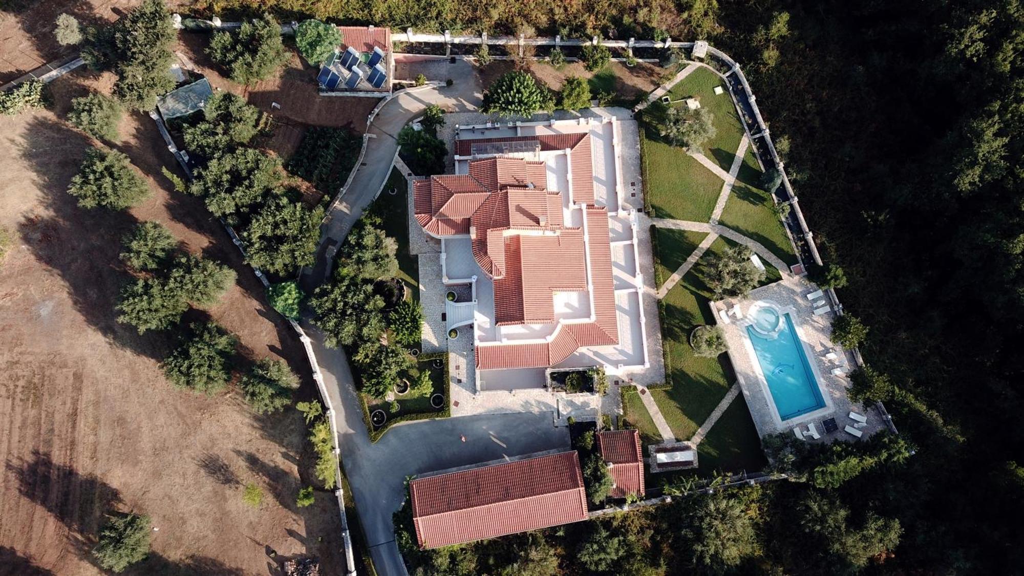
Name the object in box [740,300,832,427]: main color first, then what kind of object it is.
blue swimming pool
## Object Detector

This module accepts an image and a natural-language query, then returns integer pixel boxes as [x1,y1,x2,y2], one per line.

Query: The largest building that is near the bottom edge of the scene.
[409,451,589,549]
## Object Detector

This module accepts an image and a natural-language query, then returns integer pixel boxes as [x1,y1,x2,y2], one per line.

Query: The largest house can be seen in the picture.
[413,116,649,394]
